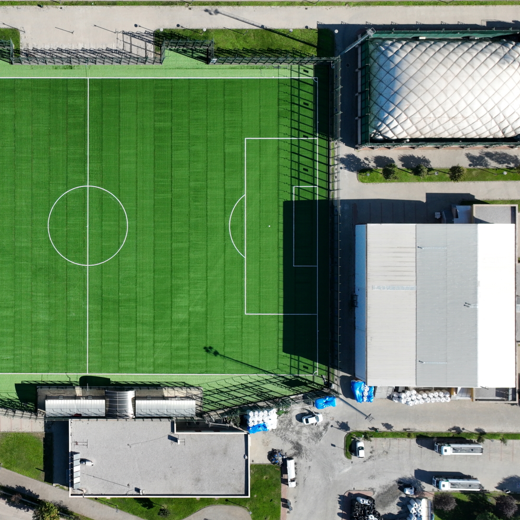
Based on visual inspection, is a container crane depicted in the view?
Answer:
No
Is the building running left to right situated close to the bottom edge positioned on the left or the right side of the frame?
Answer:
left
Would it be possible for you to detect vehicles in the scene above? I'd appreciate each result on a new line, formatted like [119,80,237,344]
[301,411,322,427]
[355,440,365,459]
[397,483,415,495]
[432,474,481,490]
[435,440,483,456]
[285,458,298,486]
